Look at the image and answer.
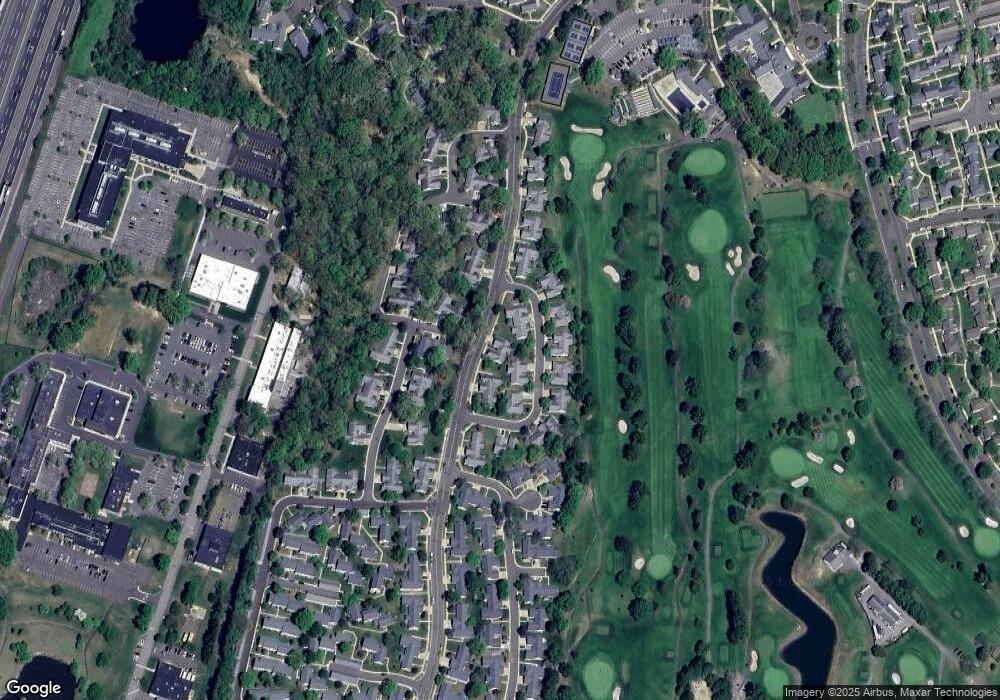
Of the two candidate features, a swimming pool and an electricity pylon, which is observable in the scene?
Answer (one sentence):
The image shows a swimming pool.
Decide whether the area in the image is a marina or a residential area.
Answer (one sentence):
It's a residential area.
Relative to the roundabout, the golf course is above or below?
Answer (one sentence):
Looking at the photo, you'll find the golf course below the roundabout.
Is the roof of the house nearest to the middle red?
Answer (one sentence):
No, the roof of the house nearest to the middle is gray.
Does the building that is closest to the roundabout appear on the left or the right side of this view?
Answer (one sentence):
The building that is closest to the roundabout is on the right side of the image.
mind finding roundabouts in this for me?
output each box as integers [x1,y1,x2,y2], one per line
[792,23,832,63]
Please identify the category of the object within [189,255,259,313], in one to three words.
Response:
building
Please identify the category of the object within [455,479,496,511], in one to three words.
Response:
house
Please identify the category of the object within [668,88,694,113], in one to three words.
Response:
swimming pool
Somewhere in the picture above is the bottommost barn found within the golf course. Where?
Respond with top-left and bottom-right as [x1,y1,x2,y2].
[866,592,899,626]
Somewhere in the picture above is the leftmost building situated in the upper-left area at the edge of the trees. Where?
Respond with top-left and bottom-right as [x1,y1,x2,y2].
[79,109,190,231]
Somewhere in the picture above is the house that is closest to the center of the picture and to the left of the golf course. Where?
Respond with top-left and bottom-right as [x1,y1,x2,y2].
[487,338,512,366]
